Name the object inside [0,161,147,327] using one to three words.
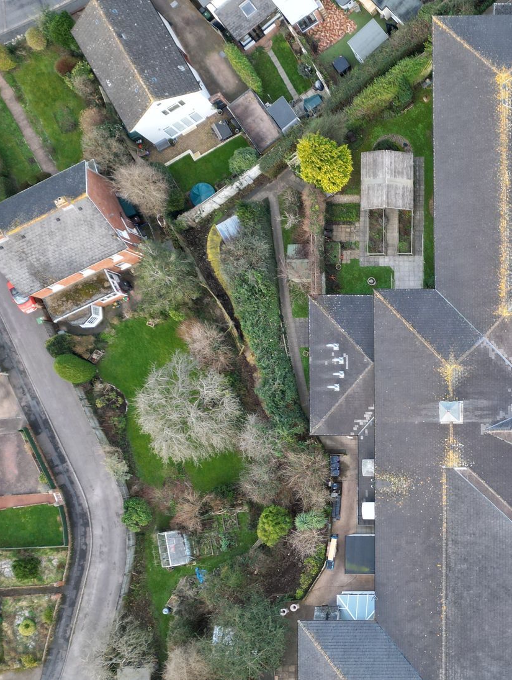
house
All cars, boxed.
[3,281,44,317]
